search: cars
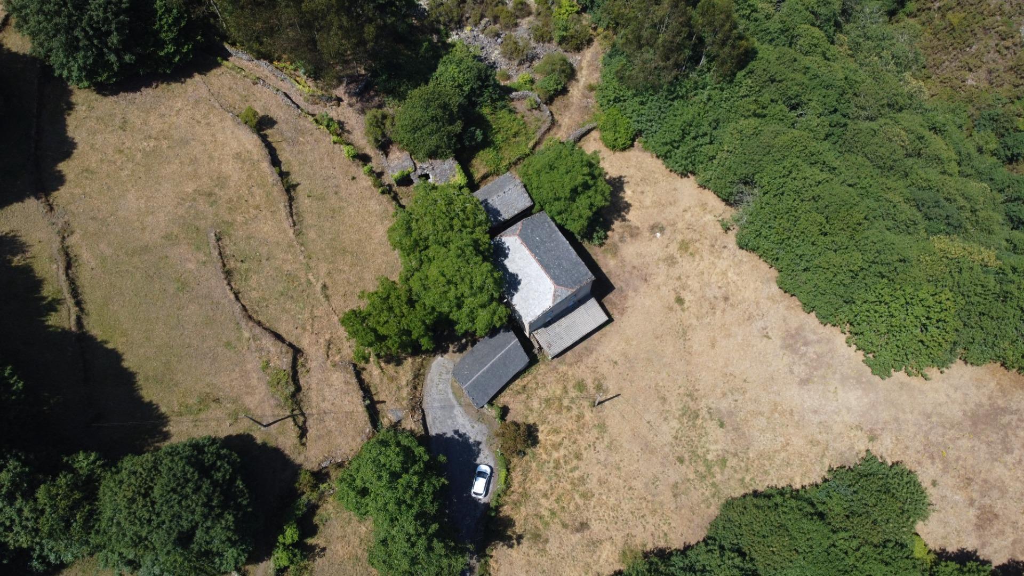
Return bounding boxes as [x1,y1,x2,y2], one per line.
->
[471,464,491,499]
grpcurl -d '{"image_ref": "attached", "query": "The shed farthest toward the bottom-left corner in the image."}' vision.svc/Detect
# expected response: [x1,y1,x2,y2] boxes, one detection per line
[452,326,529,410]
